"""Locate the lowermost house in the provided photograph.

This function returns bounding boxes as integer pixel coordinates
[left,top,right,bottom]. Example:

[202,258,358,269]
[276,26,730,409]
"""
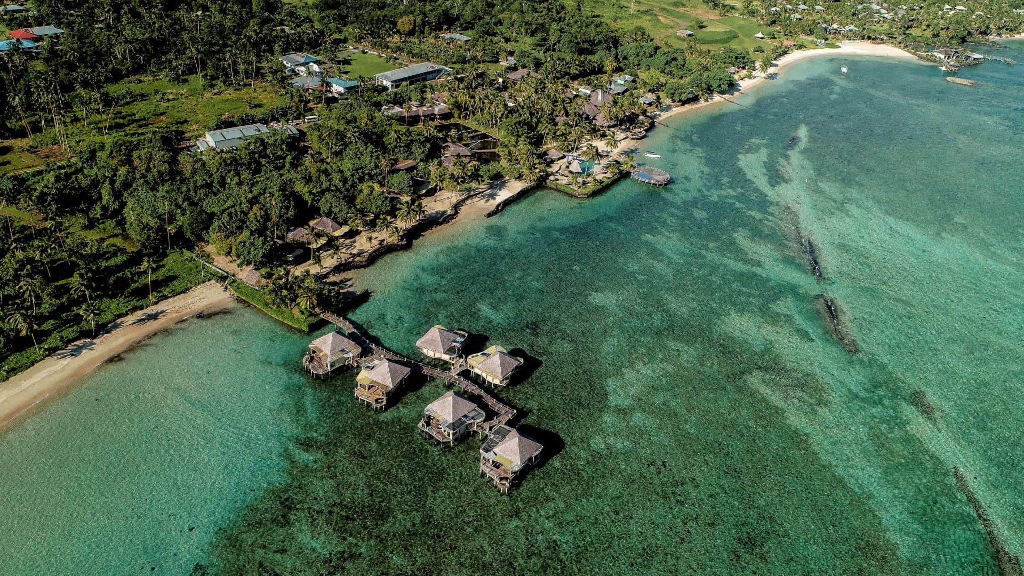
[479,425,545,496]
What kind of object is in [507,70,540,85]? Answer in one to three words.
shed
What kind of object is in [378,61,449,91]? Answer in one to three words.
building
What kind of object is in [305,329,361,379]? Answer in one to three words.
house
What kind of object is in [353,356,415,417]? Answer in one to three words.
house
